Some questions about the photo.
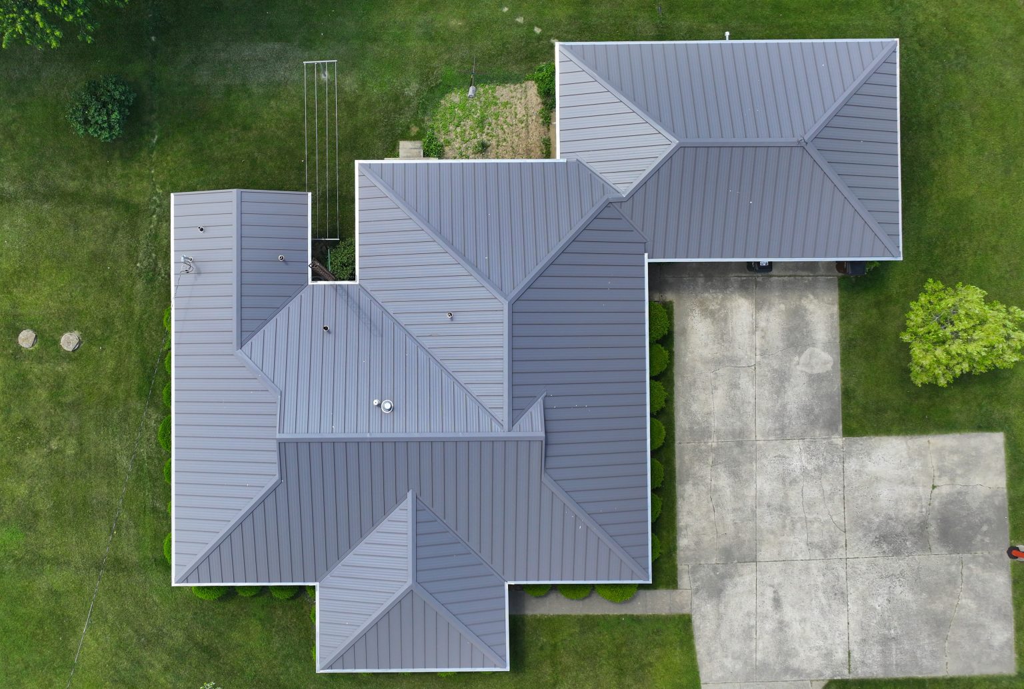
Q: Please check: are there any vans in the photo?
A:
No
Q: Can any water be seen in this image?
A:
No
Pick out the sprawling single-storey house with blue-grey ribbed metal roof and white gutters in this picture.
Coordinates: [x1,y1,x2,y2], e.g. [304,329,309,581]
[170,30,901,672]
